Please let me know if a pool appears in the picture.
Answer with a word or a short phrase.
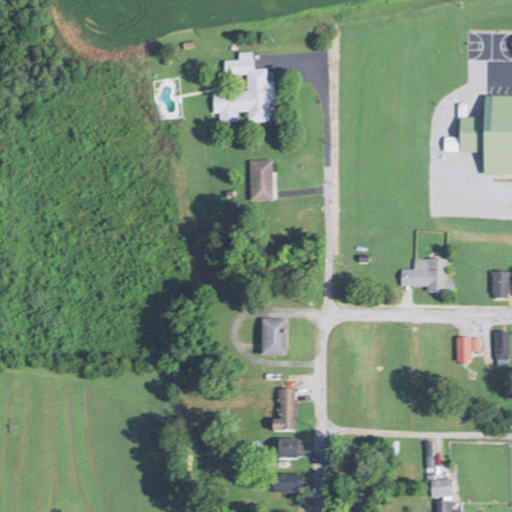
Yes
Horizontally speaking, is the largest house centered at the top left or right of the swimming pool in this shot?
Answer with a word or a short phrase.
on its right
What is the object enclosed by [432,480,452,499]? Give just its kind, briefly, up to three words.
building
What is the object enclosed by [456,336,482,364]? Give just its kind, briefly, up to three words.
building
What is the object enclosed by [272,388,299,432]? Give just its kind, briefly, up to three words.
house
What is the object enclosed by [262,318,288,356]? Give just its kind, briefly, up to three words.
house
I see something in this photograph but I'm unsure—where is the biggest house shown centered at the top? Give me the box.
[214,52,274,124]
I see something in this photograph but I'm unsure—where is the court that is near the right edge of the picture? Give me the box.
[469,32,512,61]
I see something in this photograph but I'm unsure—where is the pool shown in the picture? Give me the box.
[154,80,195,118]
